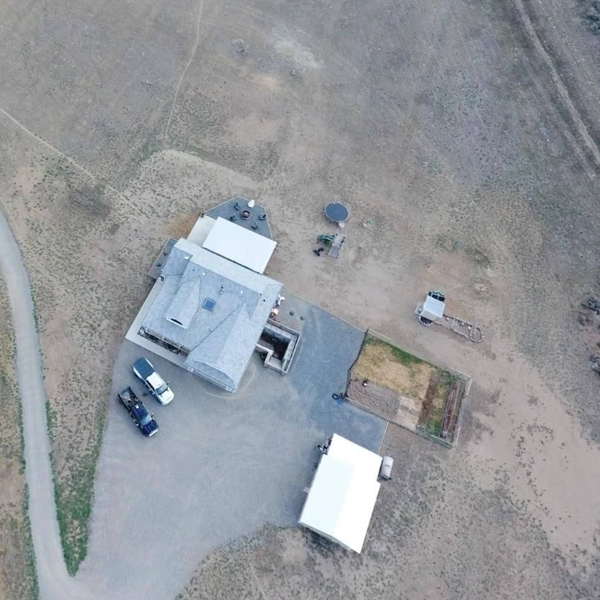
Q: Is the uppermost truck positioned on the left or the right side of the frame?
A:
left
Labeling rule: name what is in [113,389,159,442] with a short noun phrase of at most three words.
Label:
truck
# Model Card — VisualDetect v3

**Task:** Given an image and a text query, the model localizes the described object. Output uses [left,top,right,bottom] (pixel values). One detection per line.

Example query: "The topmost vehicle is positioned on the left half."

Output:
[128,359,176,410]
